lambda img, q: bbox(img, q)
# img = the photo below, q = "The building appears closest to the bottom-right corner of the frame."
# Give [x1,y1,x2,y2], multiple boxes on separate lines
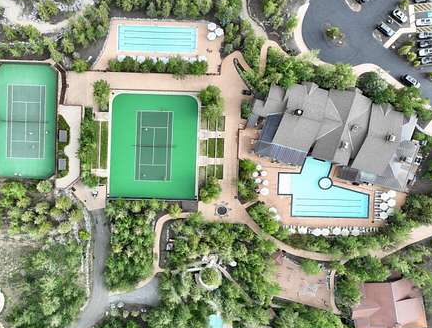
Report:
[350,276,427,328]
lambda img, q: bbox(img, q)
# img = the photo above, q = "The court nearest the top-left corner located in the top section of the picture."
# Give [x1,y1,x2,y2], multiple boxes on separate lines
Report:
[0,61,57,179]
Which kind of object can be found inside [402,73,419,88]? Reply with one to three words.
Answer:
car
